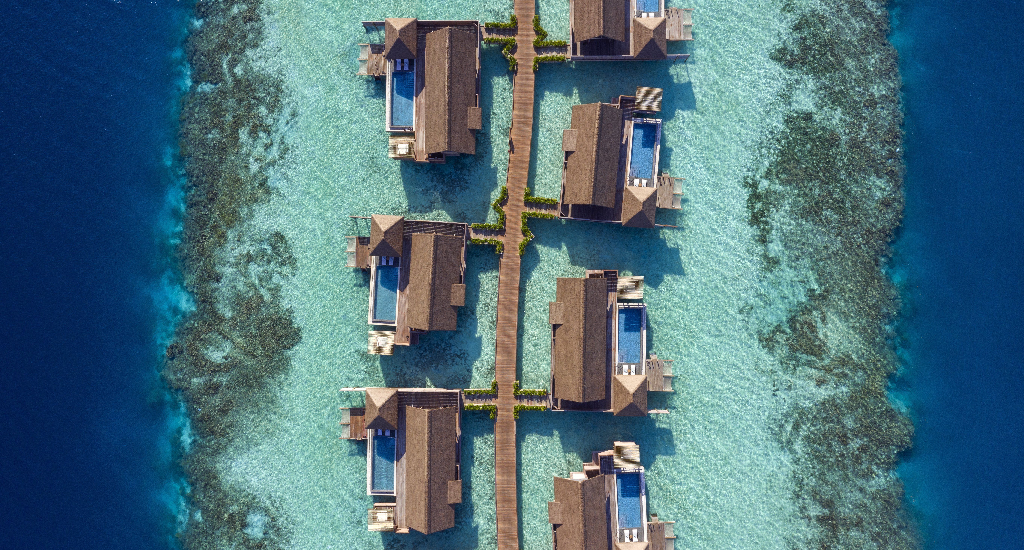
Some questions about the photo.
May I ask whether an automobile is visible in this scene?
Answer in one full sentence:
No, I find no automobile anywhere in the image.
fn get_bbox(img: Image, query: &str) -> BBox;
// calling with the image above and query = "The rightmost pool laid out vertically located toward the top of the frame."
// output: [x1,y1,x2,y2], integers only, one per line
[626,119,662,188]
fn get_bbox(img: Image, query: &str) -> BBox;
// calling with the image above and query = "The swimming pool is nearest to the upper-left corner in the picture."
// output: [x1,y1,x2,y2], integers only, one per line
[385,61,415,134]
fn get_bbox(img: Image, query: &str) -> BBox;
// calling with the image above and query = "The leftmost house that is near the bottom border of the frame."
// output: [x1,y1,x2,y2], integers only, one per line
[368,386,463,535]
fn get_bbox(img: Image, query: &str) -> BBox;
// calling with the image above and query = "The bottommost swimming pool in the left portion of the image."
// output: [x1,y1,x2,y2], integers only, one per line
[366,429,396,495]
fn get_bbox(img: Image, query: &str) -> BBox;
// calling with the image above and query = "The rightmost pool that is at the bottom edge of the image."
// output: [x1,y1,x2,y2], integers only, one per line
[614,464,647,539]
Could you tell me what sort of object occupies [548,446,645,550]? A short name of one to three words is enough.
house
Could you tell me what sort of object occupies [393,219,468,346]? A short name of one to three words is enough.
house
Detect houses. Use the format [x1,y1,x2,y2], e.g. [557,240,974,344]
[549,268,619,411]
[393,219,468,346]
[557,94,650,230]
[548,446,645,550]
[387,25,483,164]
[569,0,663,63]
[368,386,463,535]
